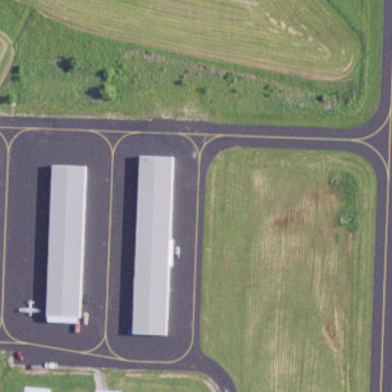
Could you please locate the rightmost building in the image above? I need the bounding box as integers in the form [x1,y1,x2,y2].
[132,156,174,334]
